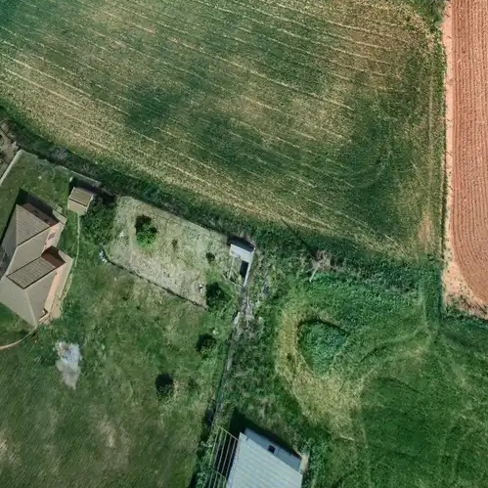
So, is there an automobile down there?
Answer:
No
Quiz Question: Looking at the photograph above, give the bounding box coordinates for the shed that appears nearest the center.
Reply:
[229,239,260,262]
